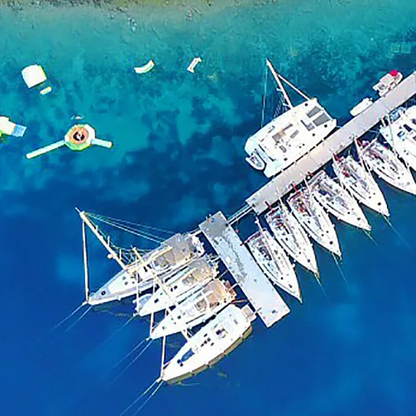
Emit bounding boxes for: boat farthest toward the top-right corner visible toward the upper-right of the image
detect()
[372,71,404,93]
